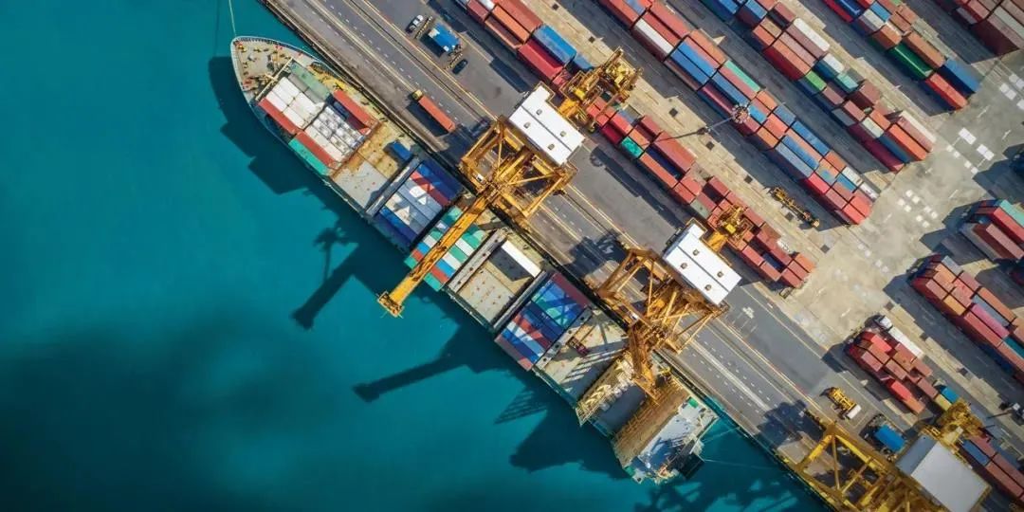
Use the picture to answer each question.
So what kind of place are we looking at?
port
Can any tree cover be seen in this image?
No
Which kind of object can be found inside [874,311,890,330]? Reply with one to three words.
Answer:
vehicle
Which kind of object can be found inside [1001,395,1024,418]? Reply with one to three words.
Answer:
truck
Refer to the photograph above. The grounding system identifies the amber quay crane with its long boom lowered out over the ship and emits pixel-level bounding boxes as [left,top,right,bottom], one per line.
[371,45,644,321]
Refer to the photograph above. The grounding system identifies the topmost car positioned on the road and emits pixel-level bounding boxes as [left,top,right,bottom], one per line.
[407,16,423,32]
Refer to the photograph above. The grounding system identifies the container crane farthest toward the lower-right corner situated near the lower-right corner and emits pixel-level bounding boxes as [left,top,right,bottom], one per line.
[772,405,987,512]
